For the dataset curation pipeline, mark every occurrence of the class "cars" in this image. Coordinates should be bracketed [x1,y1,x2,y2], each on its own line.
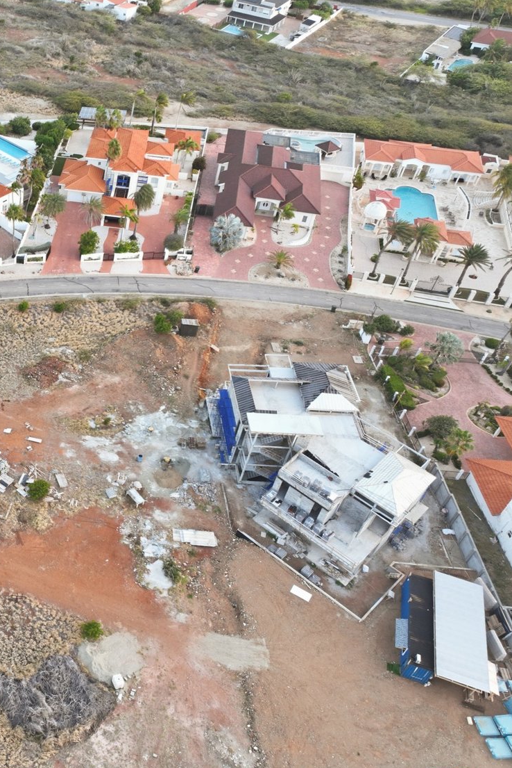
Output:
[332,0,343,10]
[290,29,304,39]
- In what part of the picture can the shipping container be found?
bottom right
